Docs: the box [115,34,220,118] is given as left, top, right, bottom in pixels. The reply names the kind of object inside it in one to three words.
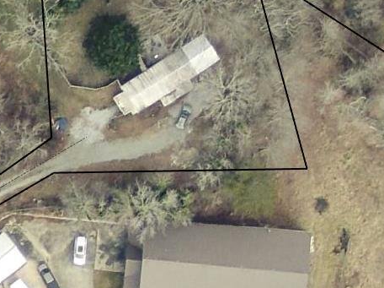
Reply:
house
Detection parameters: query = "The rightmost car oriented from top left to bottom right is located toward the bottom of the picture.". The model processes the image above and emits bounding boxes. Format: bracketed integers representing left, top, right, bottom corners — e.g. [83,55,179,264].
[37,262,60,288]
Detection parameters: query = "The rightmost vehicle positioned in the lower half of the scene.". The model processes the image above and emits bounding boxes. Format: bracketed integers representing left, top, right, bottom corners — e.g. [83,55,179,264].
[73,236,86,266]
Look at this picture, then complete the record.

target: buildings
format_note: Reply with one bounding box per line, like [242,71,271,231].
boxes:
[124,223,312,288]
[115,34,220,118]
[0,233,26,282]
